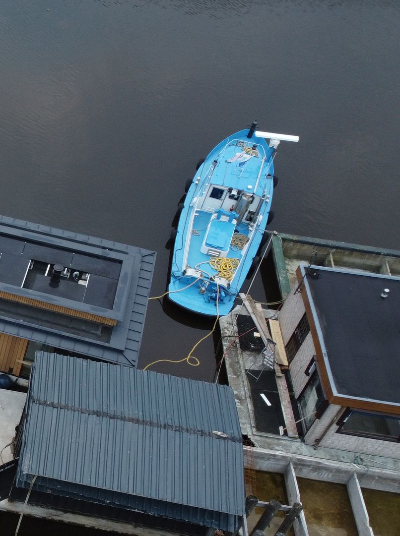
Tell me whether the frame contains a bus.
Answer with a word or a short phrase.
No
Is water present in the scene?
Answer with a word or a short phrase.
Yes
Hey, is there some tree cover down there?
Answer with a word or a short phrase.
No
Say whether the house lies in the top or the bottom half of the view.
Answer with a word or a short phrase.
bottom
